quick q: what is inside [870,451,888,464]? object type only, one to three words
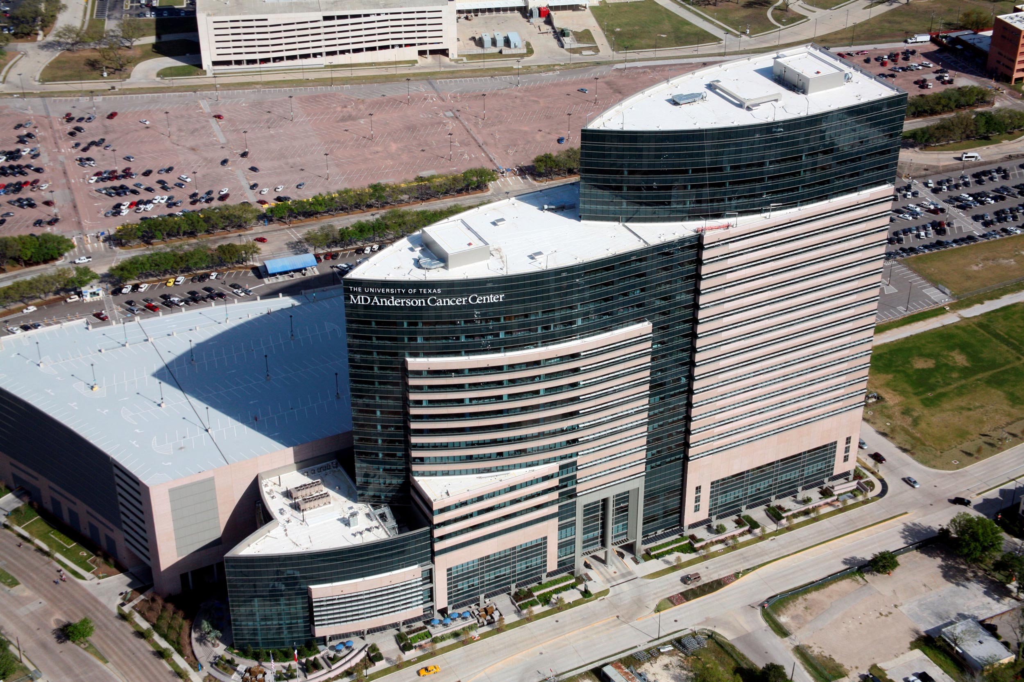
vehicle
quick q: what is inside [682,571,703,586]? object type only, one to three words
vehicle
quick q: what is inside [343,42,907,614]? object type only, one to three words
building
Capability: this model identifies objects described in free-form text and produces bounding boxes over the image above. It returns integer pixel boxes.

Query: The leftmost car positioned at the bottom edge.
[420,666,440,678]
